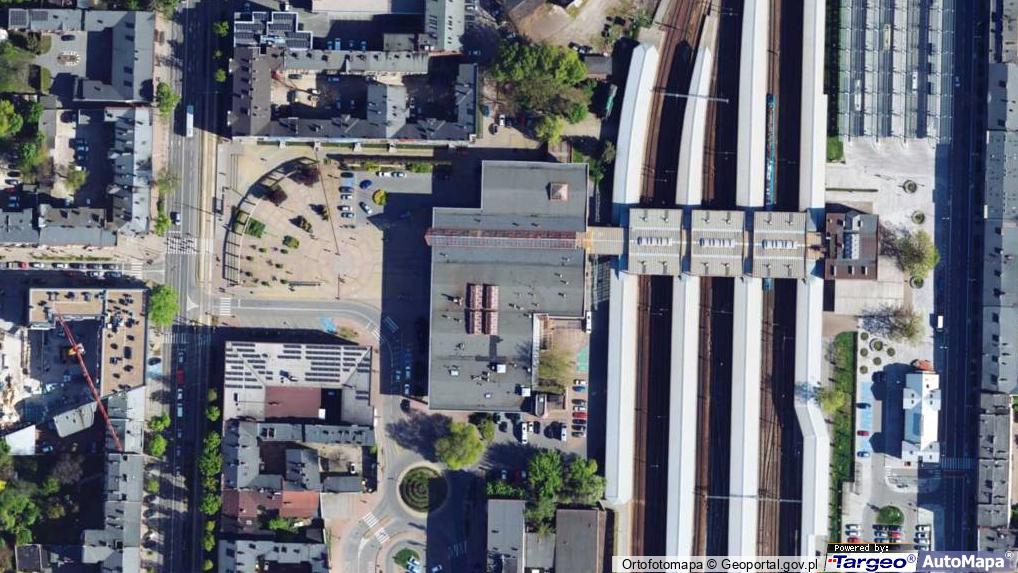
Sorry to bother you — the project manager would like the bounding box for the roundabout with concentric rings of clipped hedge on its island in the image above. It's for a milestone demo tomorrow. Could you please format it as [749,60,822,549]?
[396,464,448,515]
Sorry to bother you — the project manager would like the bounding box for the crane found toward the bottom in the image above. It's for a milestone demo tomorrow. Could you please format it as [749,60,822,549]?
[53,309,124,451]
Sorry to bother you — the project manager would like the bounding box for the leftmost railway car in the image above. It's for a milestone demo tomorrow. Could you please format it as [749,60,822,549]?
[603,85,616,116]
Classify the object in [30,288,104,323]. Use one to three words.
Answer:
building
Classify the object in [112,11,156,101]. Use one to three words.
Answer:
house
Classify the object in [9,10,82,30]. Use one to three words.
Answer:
shed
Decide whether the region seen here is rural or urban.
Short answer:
urban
